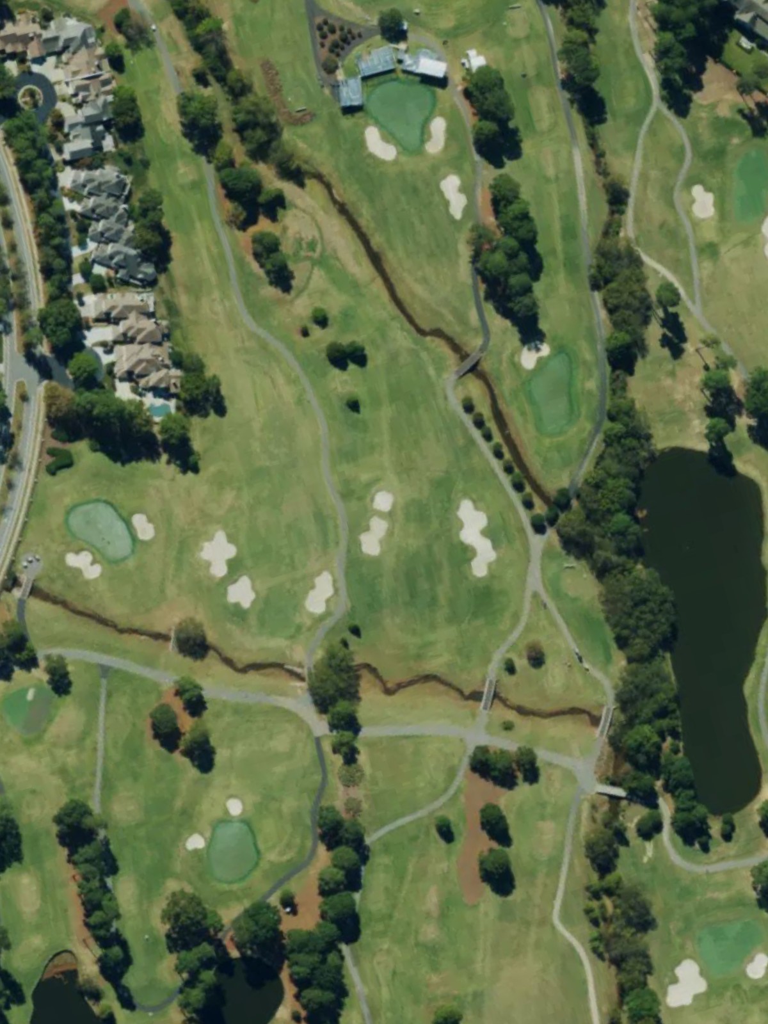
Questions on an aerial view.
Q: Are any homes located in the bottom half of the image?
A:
No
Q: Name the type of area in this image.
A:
golf course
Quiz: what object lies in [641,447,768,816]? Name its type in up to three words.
pond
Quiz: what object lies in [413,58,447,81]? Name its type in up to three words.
building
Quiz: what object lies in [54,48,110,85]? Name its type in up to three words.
house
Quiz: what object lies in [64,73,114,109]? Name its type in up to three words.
house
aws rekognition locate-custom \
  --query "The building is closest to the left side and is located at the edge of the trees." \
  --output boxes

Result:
[0,14,47,59]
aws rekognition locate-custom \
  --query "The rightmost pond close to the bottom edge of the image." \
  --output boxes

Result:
[195,953,284,1024]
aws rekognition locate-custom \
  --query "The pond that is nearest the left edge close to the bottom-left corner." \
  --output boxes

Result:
[23,968,102,1024]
